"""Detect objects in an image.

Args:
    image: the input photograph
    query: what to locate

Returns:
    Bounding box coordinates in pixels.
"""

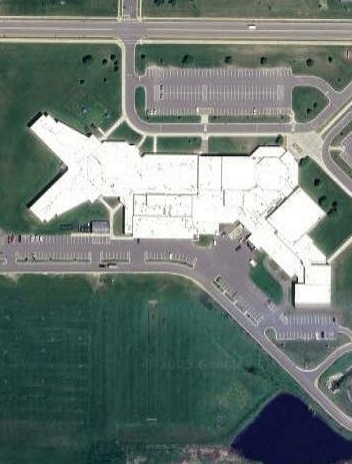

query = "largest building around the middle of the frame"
[28,115,331,305]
